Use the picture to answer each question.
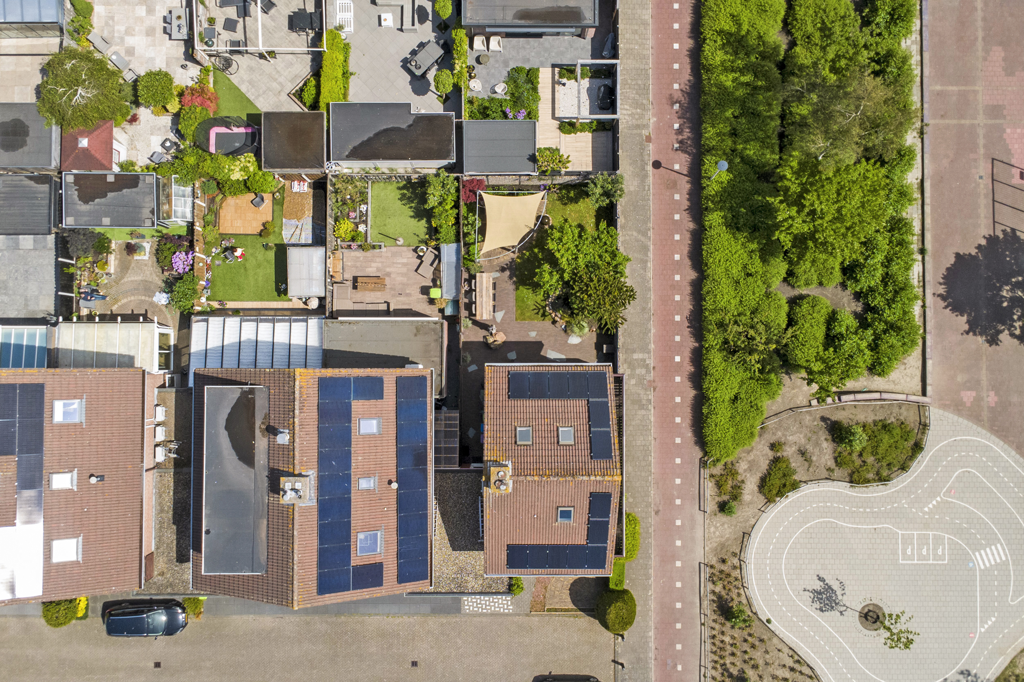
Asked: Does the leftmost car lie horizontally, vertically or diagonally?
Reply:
horizontally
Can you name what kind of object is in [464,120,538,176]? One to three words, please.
shed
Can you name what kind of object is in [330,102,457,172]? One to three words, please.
shed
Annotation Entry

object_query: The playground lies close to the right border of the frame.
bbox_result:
[746,408,1024,682]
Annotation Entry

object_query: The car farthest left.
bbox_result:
[105,601,190,643]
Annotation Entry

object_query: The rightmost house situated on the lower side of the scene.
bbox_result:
[483,362,624,578]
